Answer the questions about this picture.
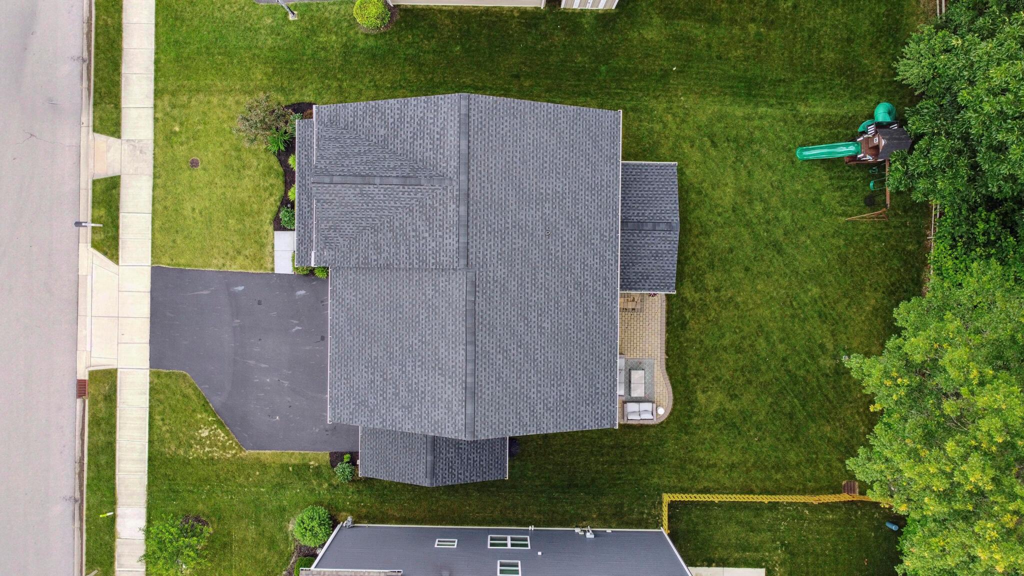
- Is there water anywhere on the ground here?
No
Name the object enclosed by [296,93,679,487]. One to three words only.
house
